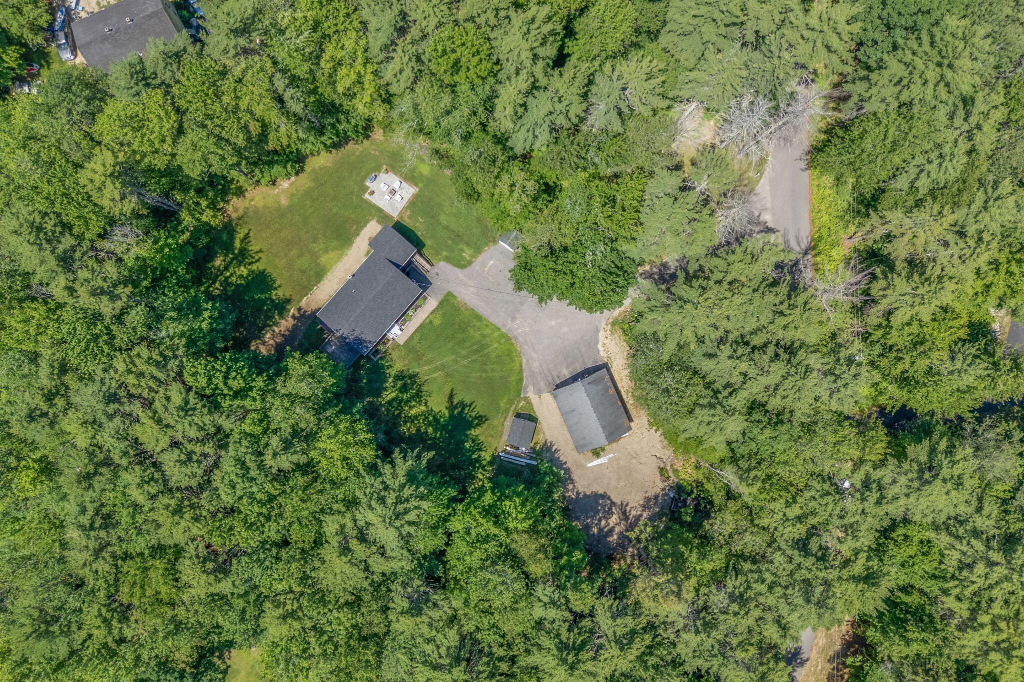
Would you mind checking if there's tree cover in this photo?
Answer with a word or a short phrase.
Yes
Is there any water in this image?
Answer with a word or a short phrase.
No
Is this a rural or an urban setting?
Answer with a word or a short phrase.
rural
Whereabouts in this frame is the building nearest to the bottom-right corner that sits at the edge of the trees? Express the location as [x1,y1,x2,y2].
[553,368,632,453]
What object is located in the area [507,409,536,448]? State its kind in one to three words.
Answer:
shed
